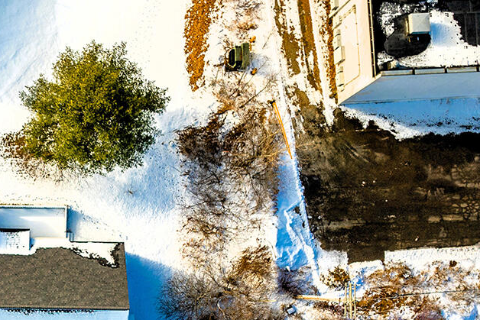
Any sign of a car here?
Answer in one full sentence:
No, I can't see a single car in this photo.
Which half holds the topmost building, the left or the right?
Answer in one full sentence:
The topmost building sits on the right side.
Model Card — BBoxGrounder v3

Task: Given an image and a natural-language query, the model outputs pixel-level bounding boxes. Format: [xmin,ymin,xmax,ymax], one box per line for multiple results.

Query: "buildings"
[320,0,480,101]
[0,228,134,320]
